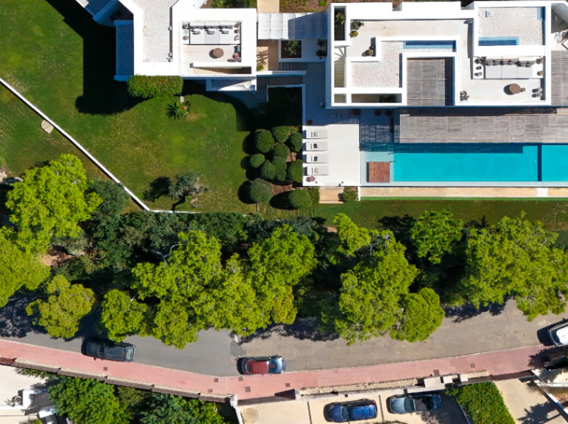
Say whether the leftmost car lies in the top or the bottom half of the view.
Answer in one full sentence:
You can find the leftmost car in the bottom half.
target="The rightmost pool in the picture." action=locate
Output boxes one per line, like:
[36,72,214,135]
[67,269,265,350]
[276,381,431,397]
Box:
[360,143,568,187]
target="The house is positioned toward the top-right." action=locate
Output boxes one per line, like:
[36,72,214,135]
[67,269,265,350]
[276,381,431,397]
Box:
[323,0,568,144]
